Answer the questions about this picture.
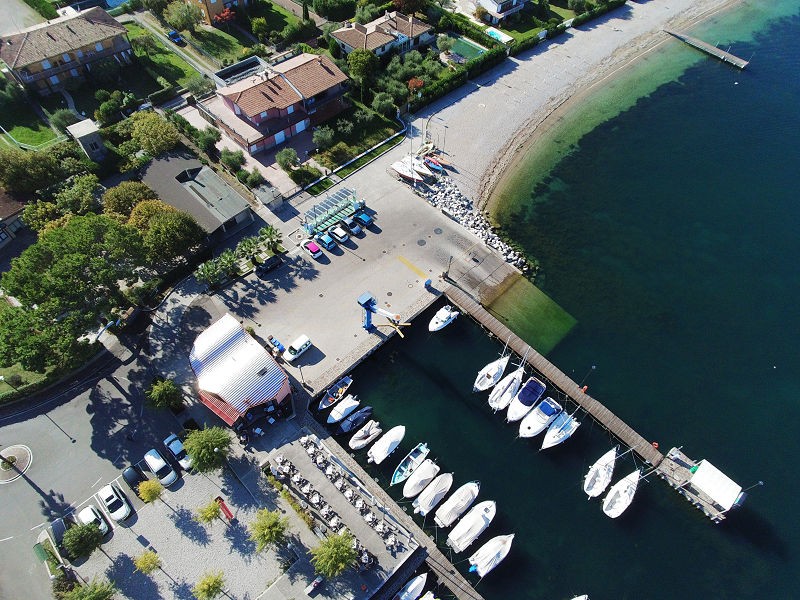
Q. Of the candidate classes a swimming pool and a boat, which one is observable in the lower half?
boat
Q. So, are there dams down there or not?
No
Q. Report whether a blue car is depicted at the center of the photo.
Yes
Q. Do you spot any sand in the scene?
Yes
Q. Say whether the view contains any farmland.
No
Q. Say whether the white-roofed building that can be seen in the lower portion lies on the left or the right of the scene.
left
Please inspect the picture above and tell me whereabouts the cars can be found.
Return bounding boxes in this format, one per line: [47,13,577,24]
[142,448,179,487]
[280,331,312,363]
[314,231,340,255]
[164,27,185,47]
[45,514,80,552]
[351,209,377,231]
[118,462,155,503]
[299,238,325,262]
[162,432,195,470]
[338,215,364,240]
[96,481,134,523]
[75,500,112,537]
[327,223,353,247]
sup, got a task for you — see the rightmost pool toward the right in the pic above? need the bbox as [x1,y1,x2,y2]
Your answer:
[477,21,519,48]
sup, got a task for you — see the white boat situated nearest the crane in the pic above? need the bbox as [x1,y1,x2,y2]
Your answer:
[430,303,462,330]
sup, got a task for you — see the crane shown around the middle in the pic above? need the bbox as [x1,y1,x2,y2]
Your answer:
[358,291,412,338]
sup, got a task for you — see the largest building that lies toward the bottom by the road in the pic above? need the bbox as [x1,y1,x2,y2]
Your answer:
[188,312,290,435]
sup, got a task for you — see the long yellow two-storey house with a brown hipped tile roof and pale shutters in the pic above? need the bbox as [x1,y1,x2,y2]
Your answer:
[0,3,136,102]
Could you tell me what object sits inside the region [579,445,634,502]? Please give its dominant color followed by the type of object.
white boat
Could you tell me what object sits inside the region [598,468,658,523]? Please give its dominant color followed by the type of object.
white boat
